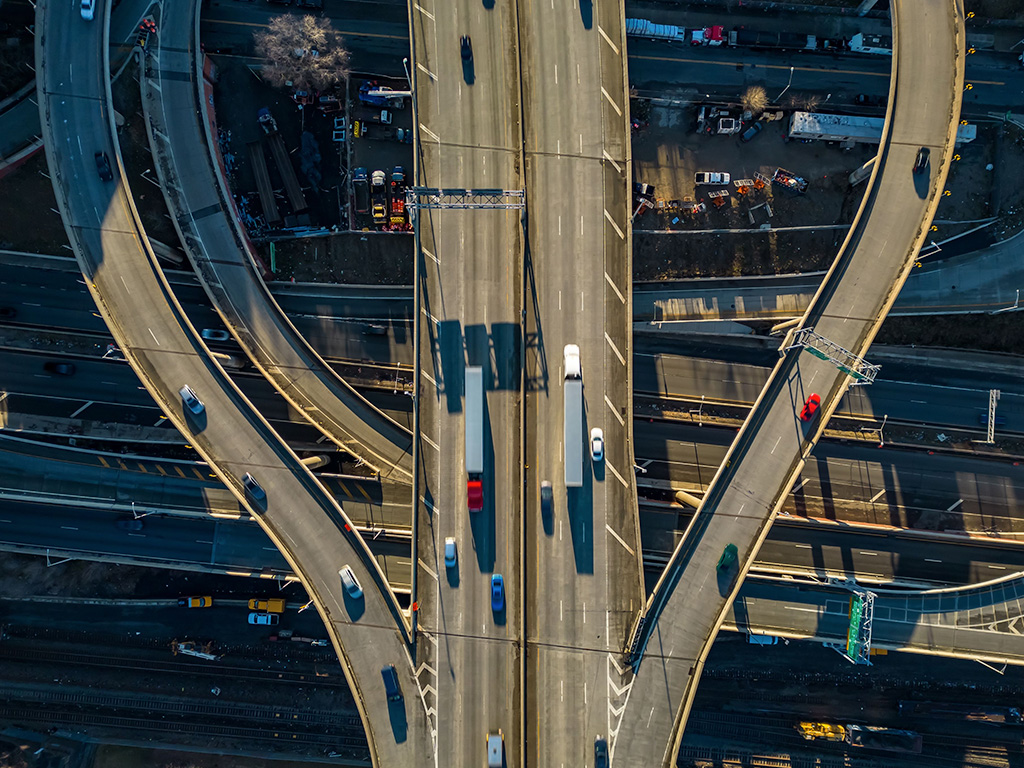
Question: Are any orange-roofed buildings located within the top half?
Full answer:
No, the scene shows no orange-roofed building within the top half.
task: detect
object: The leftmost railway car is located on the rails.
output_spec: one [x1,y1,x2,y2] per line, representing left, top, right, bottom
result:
[794,721,844,740]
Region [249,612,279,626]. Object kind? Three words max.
vehicle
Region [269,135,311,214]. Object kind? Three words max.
trailer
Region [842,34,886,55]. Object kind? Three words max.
truck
